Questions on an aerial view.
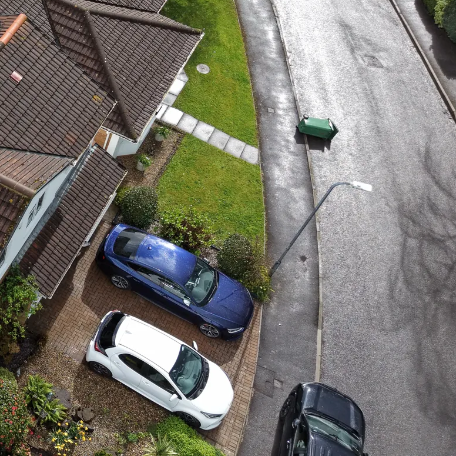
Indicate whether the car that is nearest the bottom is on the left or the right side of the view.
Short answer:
right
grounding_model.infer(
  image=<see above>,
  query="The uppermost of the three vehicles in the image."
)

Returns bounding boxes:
[94,225,258,343]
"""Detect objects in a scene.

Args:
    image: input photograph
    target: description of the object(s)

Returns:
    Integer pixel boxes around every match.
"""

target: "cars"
[85,311,240,432]
[94,225,258,343]
[278,376,382,456]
